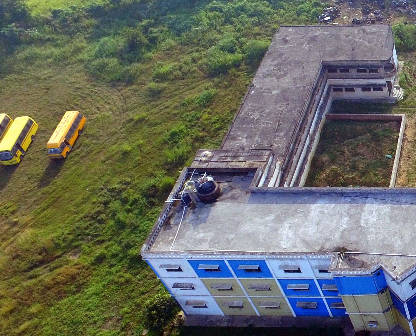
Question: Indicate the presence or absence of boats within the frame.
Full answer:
No, the frame has no boat in it.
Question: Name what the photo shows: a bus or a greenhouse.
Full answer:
The one in the frame is a bus.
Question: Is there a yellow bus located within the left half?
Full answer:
Yes, the scene does show a yellow bus within the left half.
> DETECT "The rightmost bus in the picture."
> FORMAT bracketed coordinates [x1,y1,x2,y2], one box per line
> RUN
[36,112,85,158]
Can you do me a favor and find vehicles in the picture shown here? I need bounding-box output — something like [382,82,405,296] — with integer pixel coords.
[0,112,20,139]
[0,117,43,165]
[36,112,85,158]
